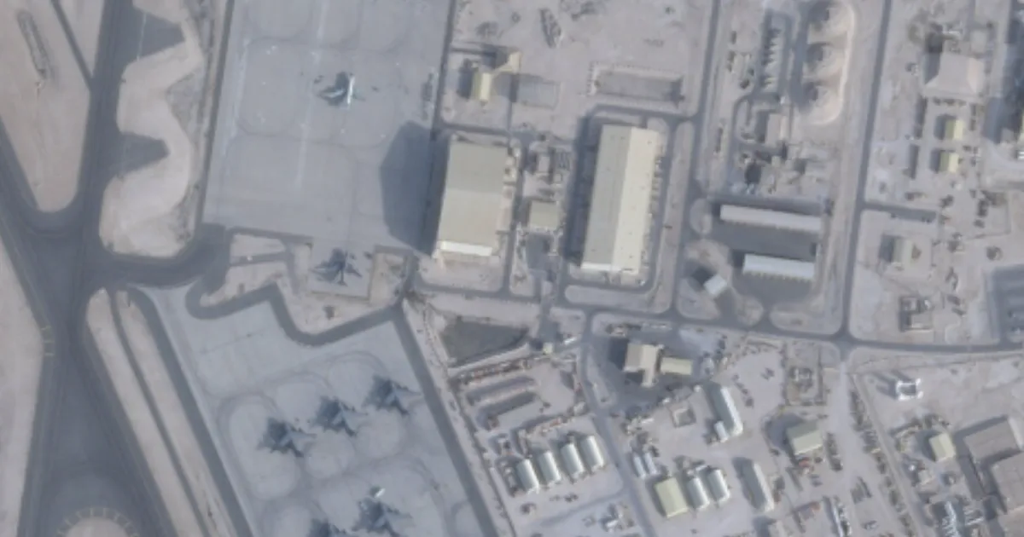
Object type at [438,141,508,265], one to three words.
hangar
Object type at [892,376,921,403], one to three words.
building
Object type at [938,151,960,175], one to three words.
shed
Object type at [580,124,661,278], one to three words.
hangar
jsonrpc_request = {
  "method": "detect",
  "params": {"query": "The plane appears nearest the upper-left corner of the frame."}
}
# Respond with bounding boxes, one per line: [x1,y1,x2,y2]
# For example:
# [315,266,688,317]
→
[328,75,370,104]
